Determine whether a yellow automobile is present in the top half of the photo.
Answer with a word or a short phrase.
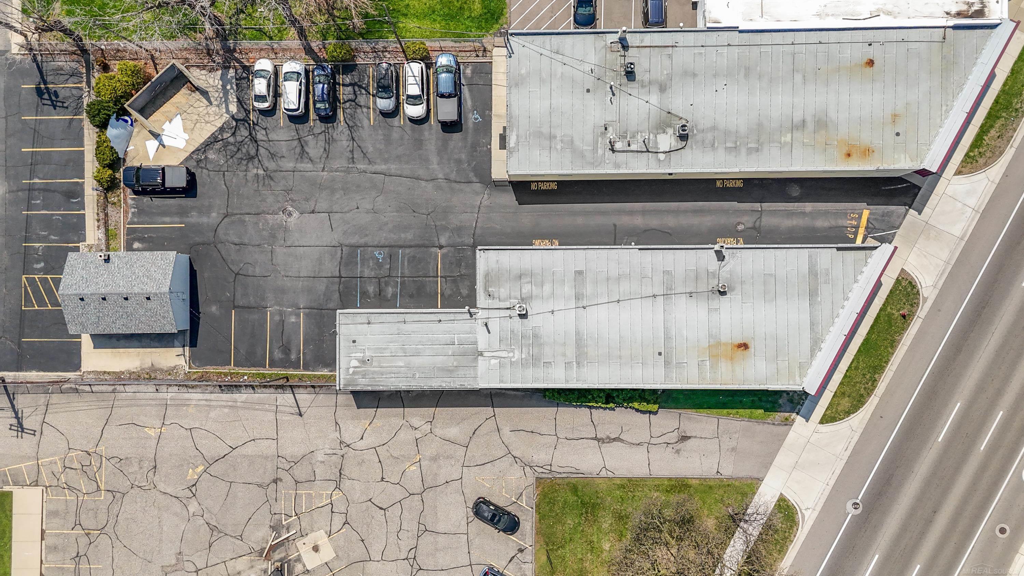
No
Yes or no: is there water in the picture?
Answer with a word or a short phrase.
No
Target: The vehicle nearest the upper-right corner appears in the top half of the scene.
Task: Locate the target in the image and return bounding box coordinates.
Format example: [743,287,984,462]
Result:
[641,0,666,28]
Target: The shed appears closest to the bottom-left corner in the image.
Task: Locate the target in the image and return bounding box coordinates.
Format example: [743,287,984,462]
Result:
[58,251,189,335]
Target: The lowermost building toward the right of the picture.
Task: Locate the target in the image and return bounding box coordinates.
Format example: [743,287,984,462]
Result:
[337,242,897,396]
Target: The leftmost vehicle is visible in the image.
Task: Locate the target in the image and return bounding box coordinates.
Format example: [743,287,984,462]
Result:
[124,165,193,192]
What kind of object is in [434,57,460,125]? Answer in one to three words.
truck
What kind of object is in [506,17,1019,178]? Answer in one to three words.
building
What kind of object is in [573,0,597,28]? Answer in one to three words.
car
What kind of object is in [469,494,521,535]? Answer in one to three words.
car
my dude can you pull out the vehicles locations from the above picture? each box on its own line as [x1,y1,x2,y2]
[401,61,428,119]
[280,62,307,117]
[573,0,597,28]
[373,60,398,114]
[469,494,521,535]
[124,165,193,192]
[477,564,508,576]
[311,64,336,119]
[251,58,278,112]
[434,57,460,125]
[641,0,666,28]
